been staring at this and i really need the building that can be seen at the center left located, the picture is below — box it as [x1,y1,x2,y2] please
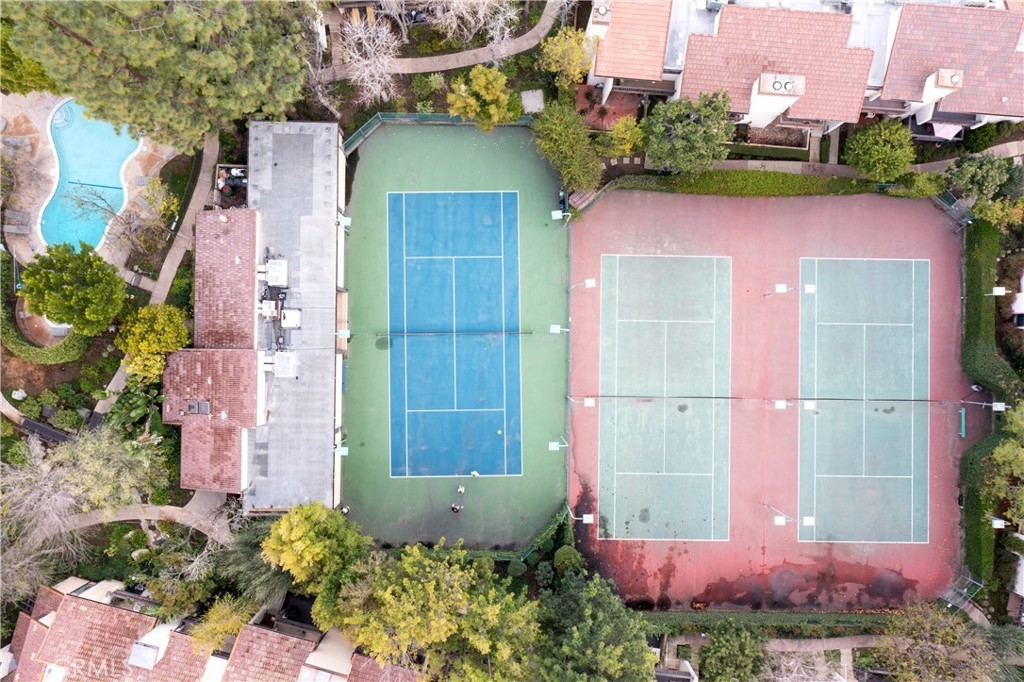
[161,121,349,513]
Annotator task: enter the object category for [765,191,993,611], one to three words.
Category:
tennis court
